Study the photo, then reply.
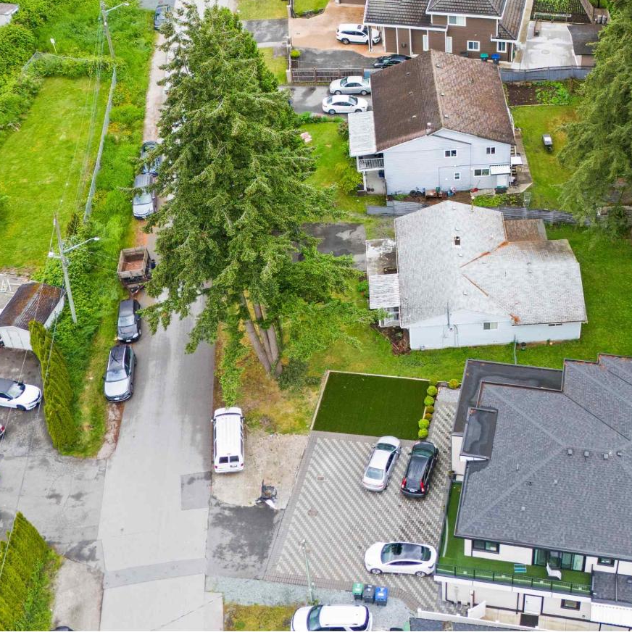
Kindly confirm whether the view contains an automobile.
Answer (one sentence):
Yes, I can see an automobile in this picture.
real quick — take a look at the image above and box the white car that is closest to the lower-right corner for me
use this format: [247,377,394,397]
[362,540,435,579]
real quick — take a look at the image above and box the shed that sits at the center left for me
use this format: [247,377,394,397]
[0,282,69,347]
